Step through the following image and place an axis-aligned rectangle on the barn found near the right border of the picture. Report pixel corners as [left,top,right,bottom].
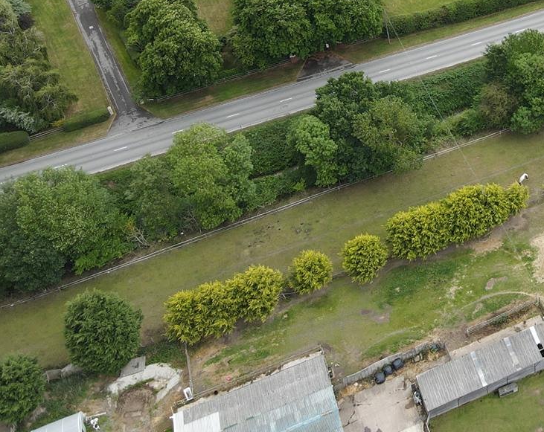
[416,322,544,420]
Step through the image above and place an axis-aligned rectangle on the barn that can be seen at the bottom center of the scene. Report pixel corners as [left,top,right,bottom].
[169,358,344,432]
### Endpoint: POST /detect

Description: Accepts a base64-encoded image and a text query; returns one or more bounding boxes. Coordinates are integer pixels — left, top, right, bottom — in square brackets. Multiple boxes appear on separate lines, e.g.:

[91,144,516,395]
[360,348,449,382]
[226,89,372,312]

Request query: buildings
[38,408,90,432]
[416,322,544,420]
[169,358,344,432]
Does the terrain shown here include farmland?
Yes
